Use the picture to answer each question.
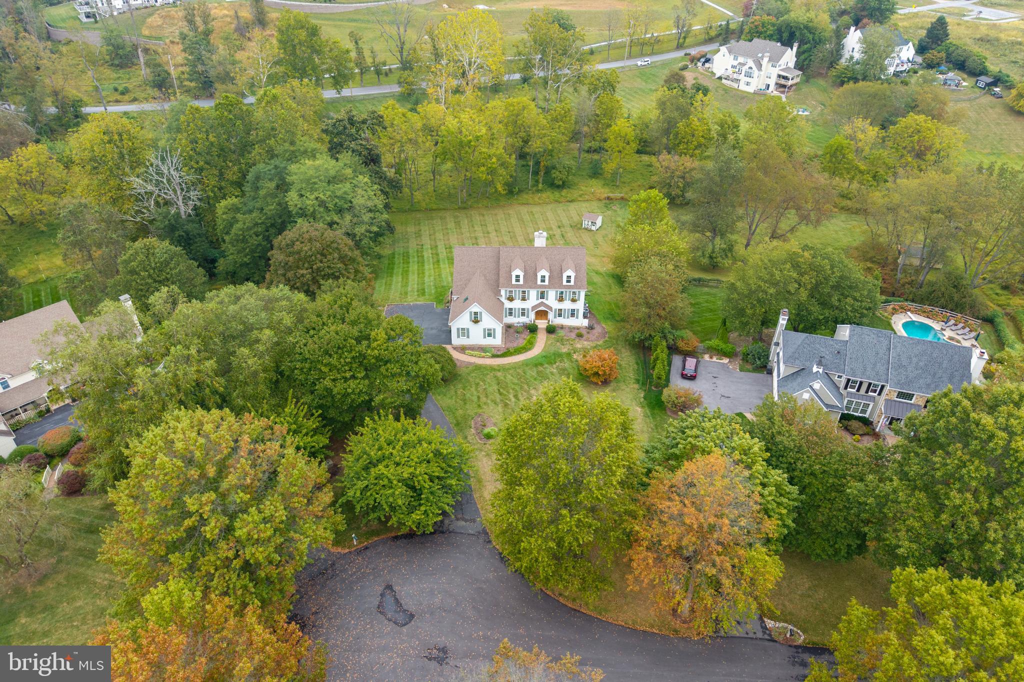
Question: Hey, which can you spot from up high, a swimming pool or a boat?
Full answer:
The image shows a swimming pool.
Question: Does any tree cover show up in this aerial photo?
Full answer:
Yes, tree cover shows up in the scene.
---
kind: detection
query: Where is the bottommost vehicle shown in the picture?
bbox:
[682,353,700,377]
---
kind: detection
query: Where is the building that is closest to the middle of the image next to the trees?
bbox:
[447,231,587,345]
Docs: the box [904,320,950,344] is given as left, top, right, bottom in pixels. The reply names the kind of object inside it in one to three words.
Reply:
swimming pool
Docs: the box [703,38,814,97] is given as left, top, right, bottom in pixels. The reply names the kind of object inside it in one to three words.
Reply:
house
